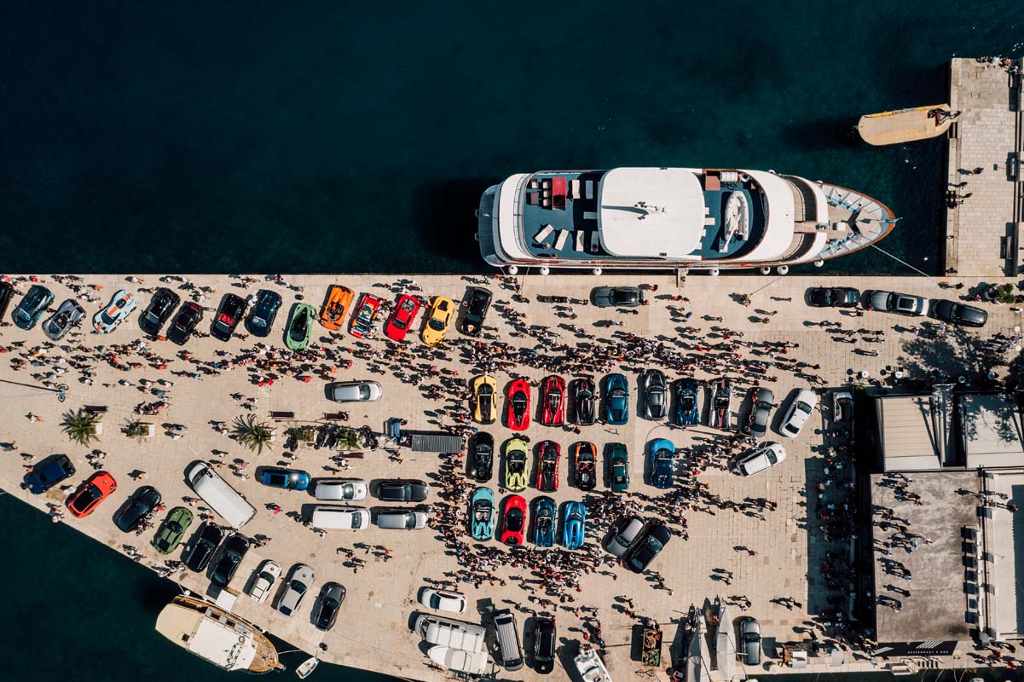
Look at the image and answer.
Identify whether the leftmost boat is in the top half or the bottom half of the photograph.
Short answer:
bottom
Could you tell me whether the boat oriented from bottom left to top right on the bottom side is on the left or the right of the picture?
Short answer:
left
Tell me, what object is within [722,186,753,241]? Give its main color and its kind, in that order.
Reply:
white boat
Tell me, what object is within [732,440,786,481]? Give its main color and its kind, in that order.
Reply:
white car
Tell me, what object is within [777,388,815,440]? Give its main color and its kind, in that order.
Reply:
white car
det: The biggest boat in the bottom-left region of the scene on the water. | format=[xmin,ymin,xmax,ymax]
[152,592,291,680]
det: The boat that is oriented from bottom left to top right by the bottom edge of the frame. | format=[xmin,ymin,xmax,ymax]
[295,657,316,680]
